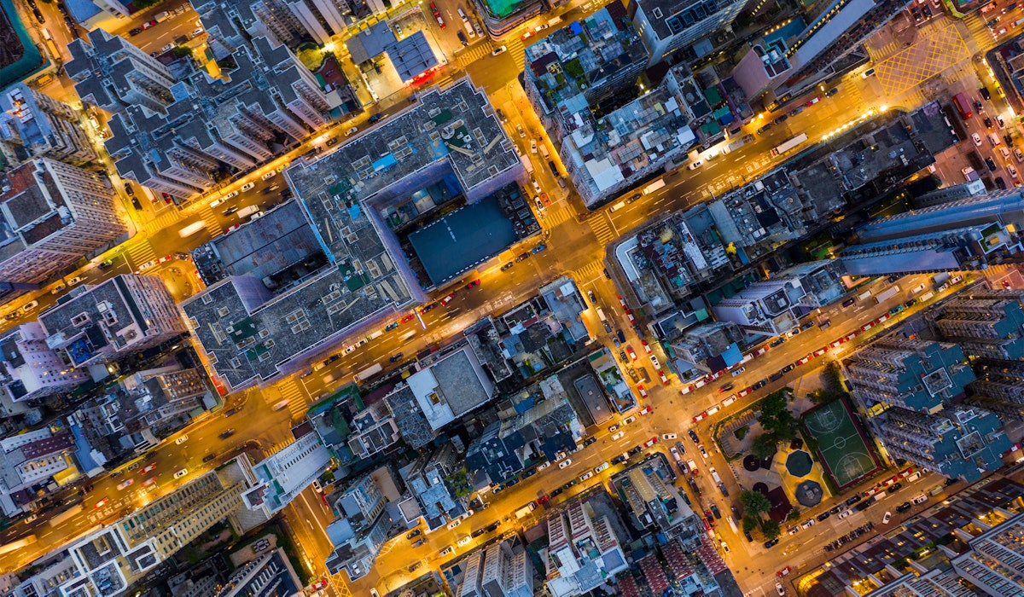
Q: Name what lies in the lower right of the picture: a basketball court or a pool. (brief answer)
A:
basketball court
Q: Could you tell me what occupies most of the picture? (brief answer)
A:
buildings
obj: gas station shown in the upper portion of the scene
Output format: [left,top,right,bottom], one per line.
[346,20,440,84]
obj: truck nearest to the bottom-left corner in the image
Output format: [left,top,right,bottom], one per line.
[1,533,32,554]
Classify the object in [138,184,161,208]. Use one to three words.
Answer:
truck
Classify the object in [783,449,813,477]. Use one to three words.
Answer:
building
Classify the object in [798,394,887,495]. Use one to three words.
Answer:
basketball court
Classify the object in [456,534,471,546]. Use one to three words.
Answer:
vehicle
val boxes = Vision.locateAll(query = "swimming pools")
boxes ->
[749,8,812,48]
